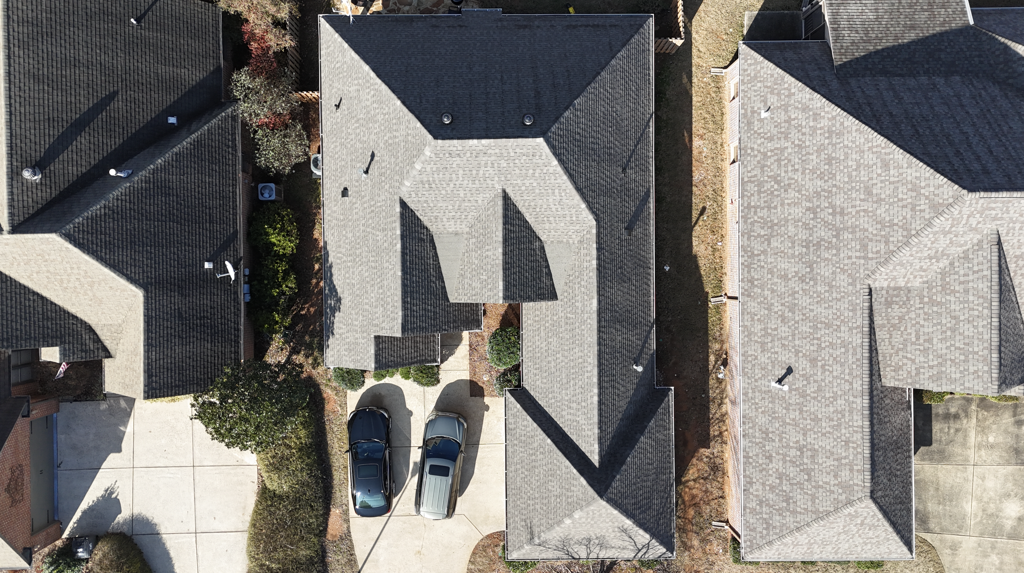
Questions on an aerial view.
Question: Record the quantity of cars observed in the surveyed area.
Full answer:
The photo contains 2 cars.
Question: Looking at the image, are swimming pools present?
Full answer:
No, the frame has no swimming pool in it.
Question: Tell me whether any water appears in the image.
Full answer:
No, the scene doesn't show any water.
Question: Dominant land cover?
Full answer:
What you mostly see from above here is buildings.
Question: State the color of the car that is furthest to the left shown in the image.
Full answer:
The car that is furthest to the left is black.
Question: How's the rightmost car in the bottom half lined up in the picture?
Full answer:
The rightmost car in the bottom half is laid out vertically.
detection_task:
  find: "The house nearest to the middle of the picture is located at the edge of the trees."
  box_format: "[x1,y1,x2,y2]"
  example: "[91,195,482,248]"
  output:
[319,8,676,561]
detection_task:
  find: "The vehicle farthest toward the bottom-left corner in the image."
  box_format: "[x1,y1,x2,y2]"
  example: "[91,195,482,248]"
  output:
[344,406,396,517]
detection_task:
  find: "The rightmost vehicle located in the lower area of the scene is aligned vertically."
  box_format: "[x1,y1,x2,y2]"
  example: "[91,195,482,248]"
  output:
[416,411,469,518]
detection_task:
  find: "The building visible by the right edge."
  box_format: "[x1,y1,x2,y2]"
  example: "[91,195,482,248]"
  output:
[723,0,1024,561]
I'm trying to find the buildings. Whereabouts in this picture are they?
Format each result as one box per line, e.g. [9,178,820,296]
[319,8,676,561]
[723,0,1024,561]
[0,0,251,567]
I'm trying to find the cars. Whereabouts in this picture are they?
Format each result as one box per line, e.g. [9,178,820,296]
[416,411,469,518]
[344,406,396,517]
